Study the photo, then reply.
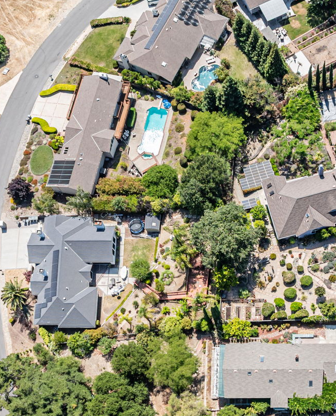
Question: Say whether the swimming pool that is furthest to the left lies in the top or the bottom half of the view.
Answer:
top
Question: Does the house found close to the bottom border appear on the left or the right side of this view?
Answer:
right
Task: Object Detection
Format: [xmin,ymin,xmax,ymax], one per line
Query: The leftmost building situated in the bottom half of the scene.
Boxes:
[25,215,116,329]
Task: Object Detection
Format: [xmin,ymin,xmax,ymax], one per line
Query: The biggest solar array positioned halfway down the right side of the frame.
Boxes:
[243,161,275,186]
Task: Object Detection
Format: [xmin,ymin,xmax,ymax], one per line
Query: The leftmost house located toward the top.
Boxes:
[46,73,122,198]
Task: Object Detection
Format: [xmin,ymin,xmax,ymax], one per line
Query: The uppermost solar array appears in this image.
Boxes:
[144,0,178,49]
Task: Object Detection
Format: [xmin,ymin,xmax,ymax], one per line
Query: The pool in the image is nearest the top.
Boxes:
[190,63,220,93]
